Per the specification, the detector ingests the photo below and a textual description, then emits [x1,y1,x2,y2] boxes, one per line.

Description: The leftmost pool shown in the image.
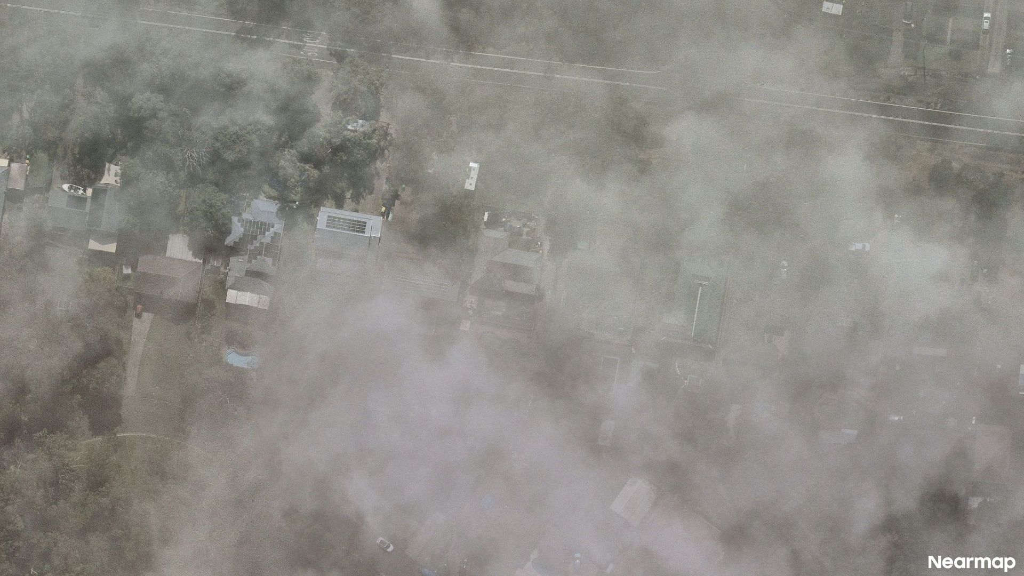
[224,347,262,371]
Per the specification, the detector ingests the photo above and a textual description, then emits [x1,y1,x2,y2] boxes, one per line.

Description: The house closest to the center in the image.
[469,248,544,299]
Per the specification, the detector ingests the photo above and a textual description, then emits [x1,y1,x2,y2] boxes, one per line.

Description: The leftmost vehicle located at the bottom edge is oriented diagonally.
[376,537,394,552]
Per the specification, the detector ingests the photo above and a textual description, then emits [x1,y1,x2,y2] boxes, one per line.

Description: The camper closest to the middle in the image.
[461,160,480,189]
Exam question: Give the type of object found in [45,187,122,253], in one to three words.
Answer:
house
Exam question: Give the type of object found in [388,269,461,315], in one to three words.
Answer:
house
